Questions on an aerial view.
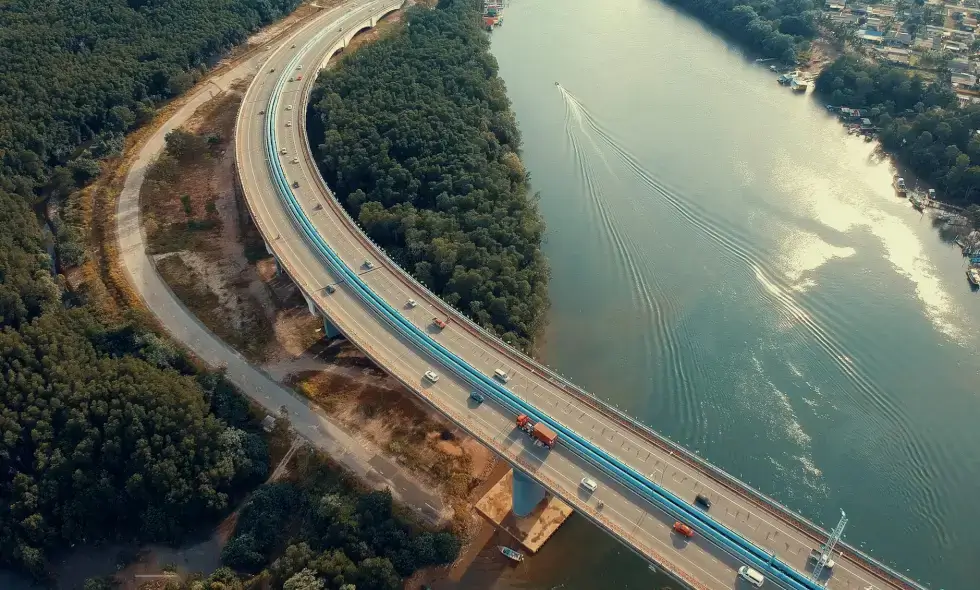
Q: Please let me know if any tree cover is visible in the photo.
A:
Yes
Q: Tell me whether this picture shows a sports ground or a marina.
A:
marina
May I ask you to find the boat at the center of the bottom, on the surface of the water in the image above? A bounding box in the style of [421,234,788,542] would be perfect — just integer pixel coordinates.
[499,546,526,560]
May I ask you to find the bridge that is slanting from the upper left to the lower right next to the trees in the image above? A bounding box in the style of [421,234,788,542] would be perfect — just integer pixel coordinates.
[236,0,924,590]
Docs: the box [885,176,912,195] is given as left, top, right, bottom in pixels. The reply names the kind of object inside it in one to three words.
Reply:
boat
